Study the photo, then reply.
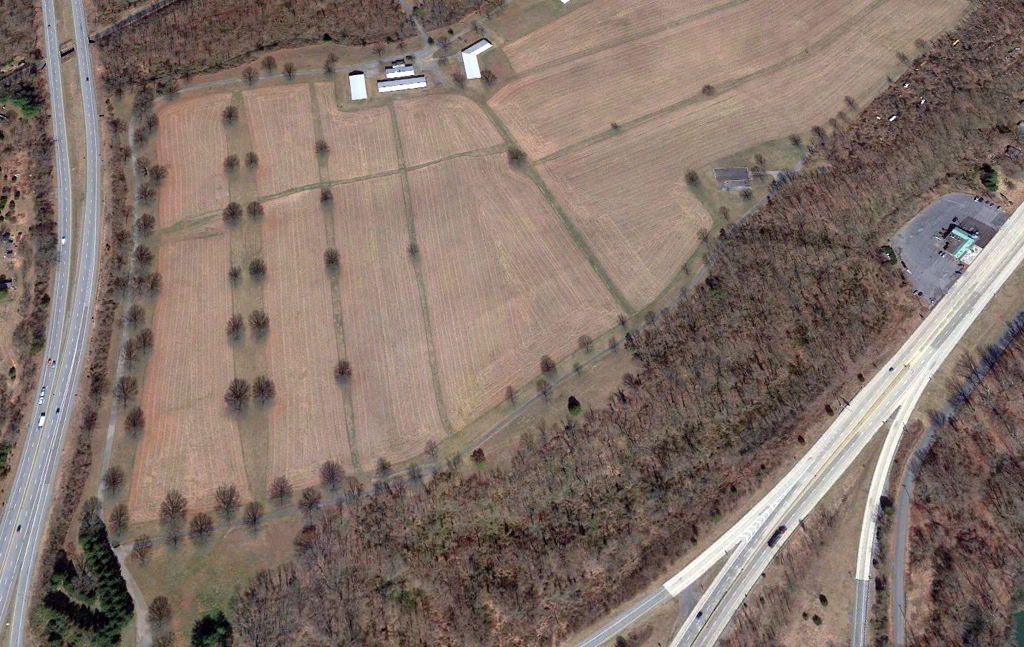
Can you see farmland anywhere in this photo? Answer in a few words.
Yes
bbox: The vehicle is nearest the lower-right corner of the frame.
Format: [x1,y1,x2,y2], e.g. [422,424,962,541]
[768,527,785,546]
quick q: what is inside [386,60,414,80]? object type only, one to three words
barn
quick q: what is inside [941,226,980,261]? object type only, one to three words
building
